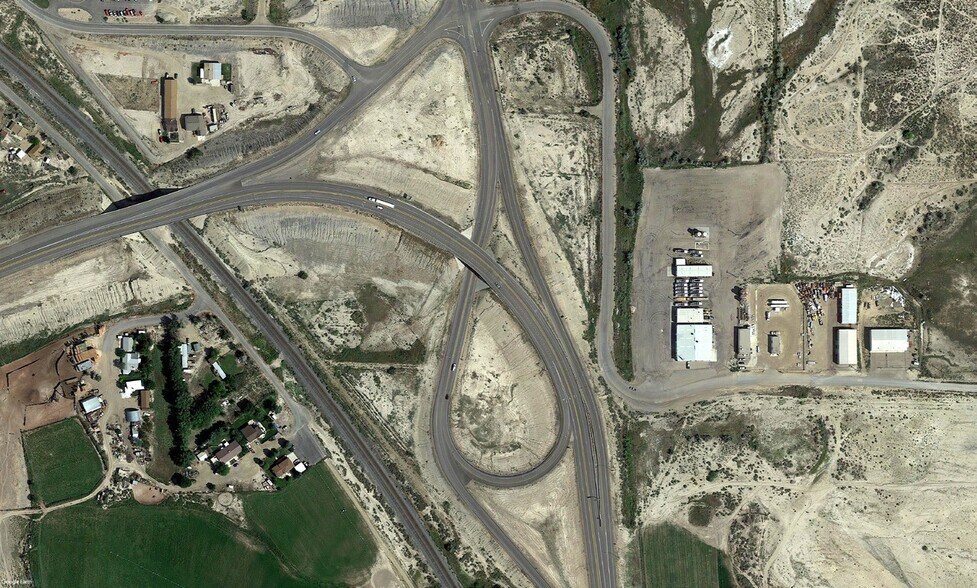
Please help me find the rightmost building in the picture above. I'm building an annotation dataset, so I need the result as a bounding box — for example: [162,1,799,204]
[871,329,909,352]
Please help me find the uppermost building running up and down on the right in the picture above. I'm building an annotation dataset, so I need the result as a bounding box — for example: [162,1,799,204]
[842,288,858,324]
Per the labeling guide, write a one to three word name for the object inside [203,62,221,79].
house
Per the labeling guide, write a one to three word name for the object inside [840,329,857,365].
building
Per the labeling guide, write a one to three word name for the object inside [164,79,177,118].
shed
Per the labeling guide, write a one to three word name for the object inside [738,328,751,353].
building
